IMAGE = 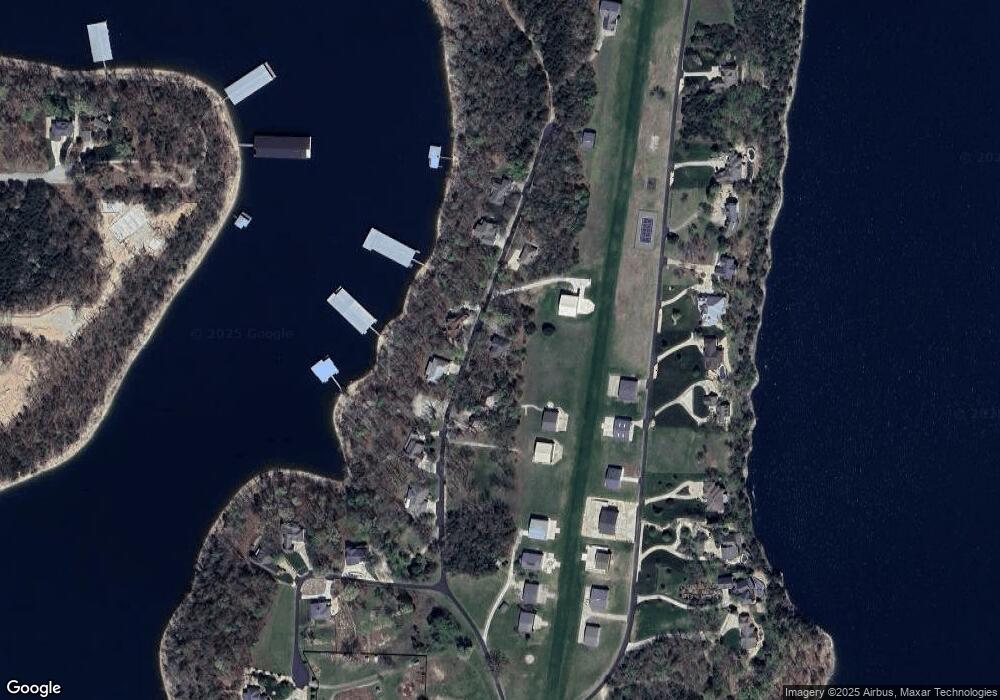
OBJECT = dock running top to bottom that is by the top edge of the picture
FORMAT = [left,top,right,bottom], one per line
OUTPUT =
[88,21,114,73]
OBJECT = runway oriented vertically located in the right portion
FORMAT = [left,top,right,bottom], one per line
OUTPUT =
[545,0,657,700]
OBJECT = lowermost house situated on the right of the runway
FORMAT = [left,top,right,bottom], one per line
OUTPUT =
[738,615,756,651]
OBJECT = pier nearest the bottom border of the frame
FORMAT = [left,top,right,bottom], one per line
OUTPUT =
[312,354,344,392]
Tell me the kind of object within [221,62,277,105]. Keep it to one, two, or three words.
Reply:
pier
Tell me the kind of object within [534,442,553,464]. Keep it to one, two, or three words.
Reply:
hangar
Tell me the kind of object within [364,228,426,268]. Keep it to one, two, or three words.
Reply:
pier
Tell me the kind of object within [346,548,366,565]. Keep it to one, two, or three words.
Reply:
house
